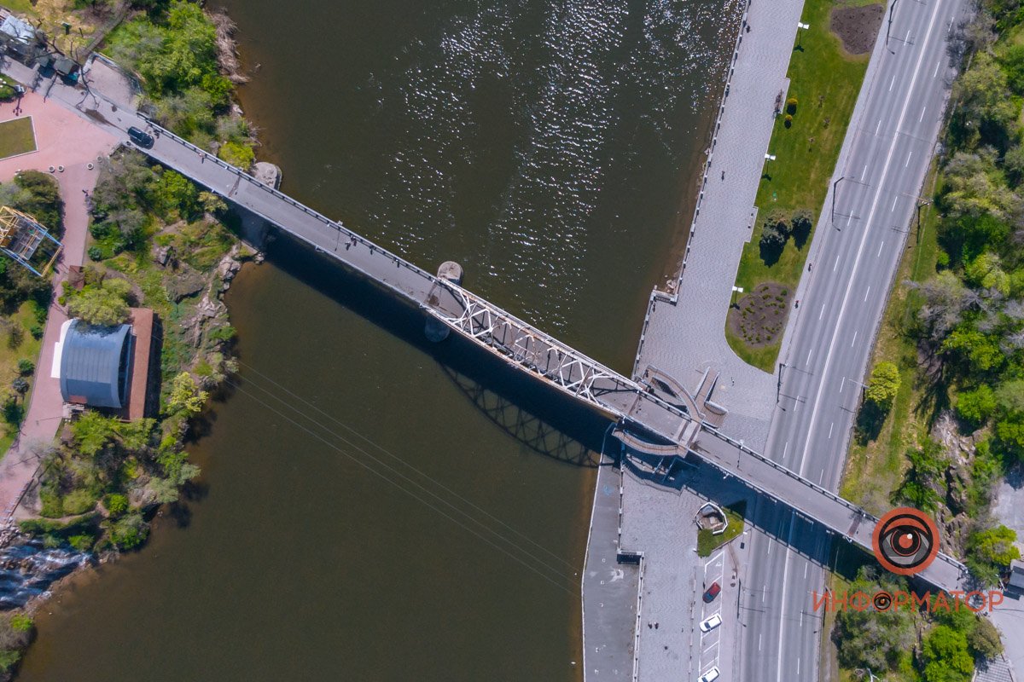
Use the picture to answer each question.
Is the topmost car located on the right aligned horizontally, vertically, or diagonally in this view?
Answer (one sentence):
The topmost car located on the right is oriented diagonally.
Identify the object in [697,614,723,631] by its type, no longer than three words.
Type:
car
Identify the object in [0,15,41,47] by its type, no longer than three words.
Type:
building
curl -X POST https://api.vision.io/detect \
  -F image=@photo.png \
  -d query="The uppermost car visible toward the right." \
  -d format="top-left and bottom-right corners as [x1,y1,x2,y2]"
[702,580,722,602]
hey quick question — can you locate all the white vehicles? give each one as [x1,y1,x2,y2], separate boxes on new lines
[697,614,723,631]
[696,665,720,682]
